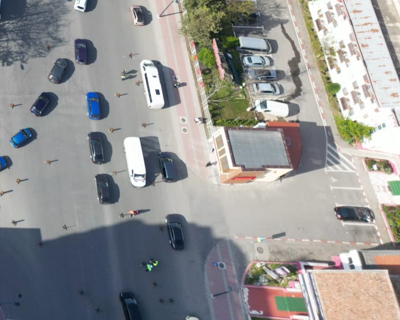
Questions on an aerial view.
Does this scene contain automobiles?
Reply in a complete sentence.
Yes, the picture does show an automobile.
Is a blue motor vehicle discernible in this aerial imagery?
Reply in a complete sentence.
Yes, I can see a blue motor vehicle in this picture.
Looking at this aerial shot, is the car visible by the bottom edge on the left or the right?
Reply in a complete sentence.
It is on the left.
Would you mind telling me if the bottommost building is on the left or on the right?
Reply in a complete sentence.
You can find the bottommost building on the right side of the picture.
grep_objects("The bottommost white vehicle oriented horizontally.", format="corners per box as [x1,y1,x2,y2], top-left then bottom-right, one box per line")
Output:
[253,98,292,118]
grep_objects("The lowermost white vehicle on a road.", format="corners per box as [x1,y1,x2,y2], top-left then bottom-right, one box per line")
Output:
[127,133,150,186]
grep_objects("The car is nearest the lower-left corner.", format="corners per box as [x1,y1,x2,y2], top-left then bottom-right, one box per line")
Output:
[116,290,139,320]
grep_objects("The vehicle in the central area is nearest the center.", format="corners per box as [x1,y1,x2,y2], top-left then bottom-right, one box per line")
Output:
[157,151,177,183]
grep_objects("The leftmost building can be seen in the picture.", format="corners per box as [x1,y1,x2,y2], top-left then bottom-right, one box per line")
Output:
[207,122,301,183]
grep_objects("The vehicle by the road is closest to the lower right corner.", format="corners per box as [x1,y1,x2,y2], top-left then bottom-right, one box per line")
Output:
[334,206,375,224]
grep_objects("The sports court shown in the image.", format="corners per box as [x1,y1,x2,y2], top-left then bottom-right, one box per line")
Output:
[249,288,296,320]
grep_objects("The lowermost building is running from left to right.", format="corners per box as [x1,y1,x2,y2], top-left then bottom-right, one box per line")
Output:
[285,269,400,320]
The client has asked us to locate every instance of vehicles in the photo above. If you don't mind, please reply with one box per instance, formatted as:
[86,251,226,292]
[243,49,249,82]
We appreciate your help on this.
[48,57,68,84]
[127,133,150,186]
[241,54,272,67]
[140,62,170,106]
[164,216,184,249]
[93,173,111,205]
[253,98,292,118]
[9,126,34,149]
[157,151,177,183]
[87,133,104,163]
[86,94,101,119]
[0,156,9,170]
[74,0,87,13]
[334,206,375,224]
[116,290,139,320]
[75,38,89,65]
[29,90,51,118]
[129,3,146,28]
[247,67,277,82]
[251,82,282,95]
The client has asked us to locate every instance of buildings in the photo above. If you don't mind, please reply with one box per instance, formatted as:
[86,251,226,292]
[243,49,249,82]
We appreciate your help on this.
[285,269,400,320]
[207,122,301,183]
[308,0,400,157]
